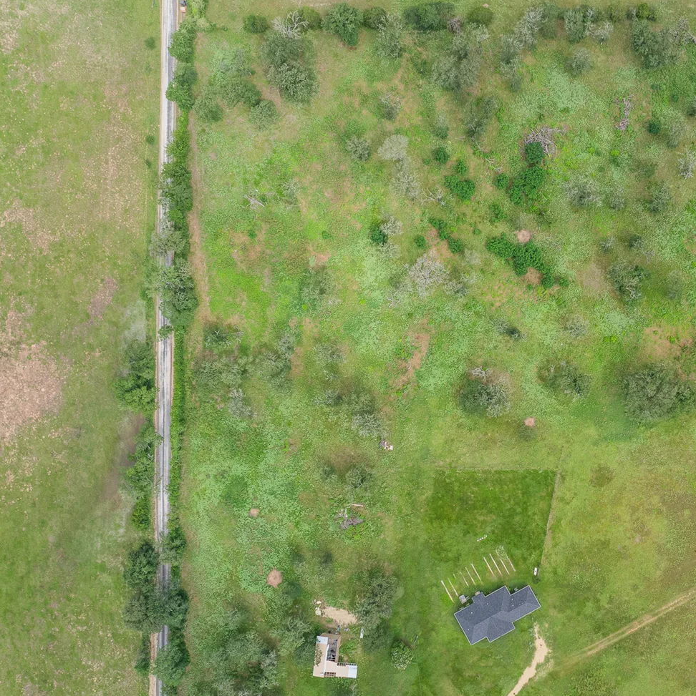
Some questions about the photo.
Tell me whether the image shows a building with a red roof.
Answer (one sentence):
No, no building with a red roof can be seen from above.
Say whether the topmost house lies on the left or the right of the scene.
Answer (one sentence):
It is on the right.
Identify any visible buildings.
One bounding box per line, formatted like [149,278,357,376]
[453,584,542,646]
[313,633,358,678]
